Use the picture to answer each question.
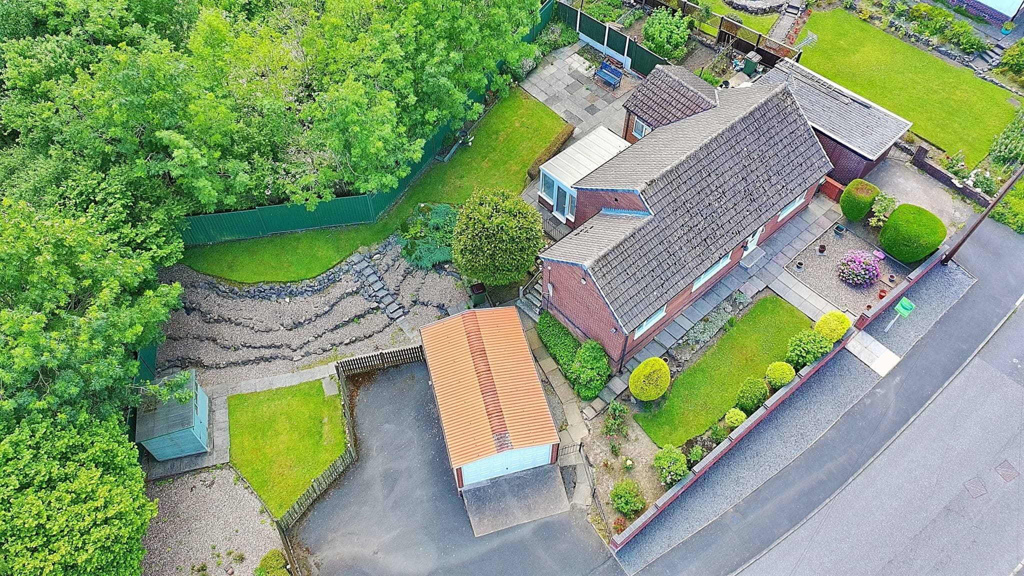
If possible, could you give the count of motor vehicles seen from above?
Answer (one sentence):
The count of motor vehicles is 0.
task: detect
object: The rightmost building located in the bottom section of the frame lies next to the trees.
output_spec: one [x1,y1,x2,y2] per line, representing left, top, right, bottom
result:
[420,306,559,489]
